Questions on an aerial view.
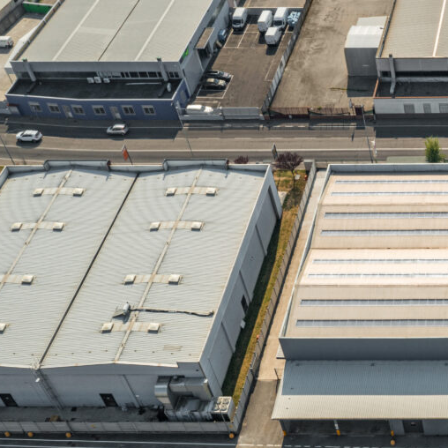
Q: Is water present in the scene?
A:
No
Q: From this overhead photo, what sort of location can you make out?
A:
industrial area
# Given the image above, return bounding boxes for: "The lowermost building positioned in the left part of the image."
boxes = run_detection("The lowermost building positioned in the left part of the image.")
[0,159,277,408]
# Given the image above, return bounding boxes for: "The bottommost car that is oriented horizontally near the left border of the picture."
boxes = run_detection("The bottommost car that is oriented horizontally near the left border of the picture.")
[14,128,44,142]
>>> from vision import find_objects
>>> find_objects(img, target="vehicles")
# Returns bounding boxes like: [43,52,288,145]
[261,26,282,49]
[229,5,247,31]
[214,29,233,41]
[0,34,15,48]
[270,3,289,30]
[104,123,131,135]
[14,128,44,142]
[203,76,229,88]
[254,11,273,33]
[204,68,233,79]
